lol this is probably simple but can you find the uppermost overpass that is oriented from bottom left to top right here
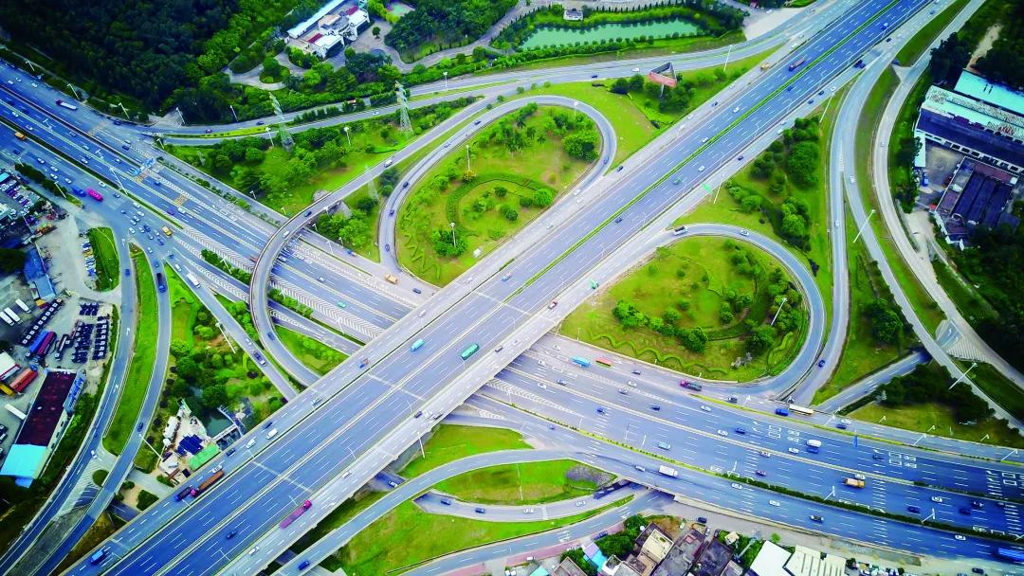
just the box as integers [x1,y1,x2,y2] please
[250,92,505,386]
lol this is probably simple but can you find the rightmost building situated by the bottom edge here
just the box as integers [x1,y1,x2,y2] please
[782,546,846,576]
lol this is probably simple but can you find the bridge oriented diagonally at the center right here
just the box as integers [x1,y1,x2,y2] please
[843,150,1024,447]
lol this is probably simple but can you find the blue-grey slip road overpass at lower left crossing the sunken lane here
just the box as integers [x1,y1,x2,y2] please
[24,241,171,576]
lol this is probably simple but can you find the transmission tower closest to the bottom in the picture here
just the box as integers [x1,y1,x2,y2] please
[359,165,382,201]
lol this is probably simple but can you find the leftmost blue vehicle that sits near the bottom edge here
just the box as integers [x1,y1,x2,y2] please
[86,546,106,564]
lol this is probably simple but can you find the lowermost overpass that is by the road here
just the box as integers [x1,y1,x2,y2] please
[271,448,597,576]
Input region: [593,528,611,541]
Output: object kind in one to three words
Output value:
vehicle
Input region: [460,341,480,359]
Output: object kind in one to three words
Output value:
vehicle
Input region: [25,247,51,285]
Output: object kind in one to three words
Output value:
shed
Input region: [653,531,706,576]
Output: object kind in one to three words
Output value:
house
